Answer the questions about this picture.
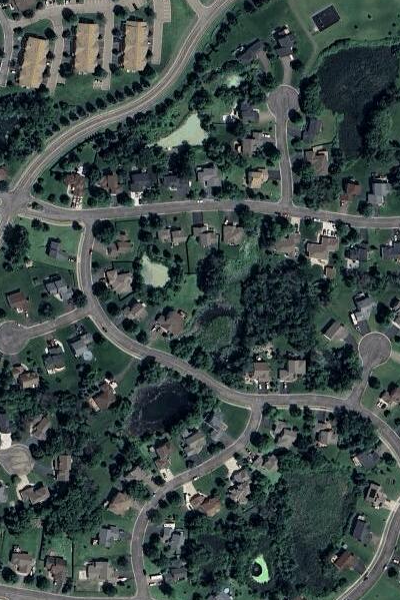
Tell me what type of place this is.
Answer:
residential area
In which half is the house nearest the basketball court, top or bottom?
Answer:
top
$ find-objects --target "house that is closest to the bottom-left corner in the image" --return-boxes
[9,550,33,574]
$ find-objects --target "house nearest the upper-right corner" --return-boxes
[272,26,293,54]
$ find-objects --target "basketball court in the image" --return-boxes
[311,4,340,32]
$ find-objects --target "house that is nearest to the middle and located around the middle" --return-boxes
[156,308,186,334]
